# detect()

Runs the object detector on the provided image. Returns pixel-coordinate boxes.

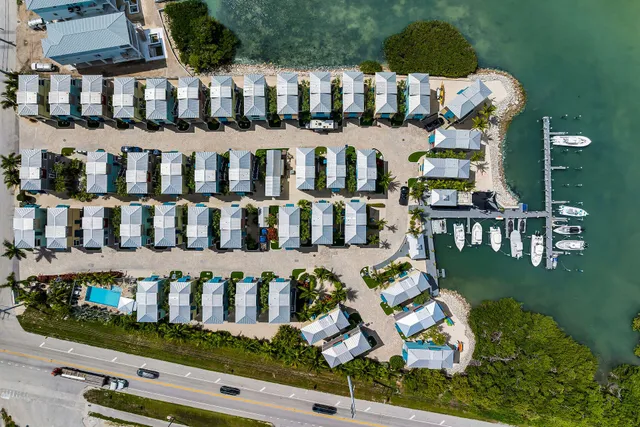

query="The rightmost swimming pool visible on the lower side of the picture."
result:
[73,276,137,315]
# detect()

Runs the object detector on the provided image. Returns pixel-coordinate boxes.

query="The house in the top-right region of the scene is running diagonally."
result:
[440,79,491,125]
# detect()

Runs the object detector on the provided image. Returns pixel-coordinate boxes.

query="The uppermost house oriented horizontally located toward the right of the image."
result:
[426,129,481,151]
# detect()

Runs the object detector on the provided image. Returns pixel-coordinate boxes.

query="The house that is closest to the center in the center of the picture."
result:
[311,201,334,246]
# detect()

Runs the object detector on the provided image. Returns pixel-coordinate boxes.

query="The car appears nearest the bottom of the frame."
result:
[312,401,337,415]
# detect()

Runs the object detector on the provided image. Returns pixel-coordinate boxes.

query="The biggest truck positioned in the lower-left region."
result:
[56,366,131,394]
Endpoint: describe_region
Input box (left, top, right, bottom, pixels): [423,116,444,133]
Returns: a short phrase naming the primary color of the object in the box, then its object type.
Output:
black vehicle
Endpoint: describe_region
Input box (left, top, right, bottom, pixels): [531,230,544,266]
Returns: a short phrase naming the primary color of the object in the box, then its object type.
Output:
white boat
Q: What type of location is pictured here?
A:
residential area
